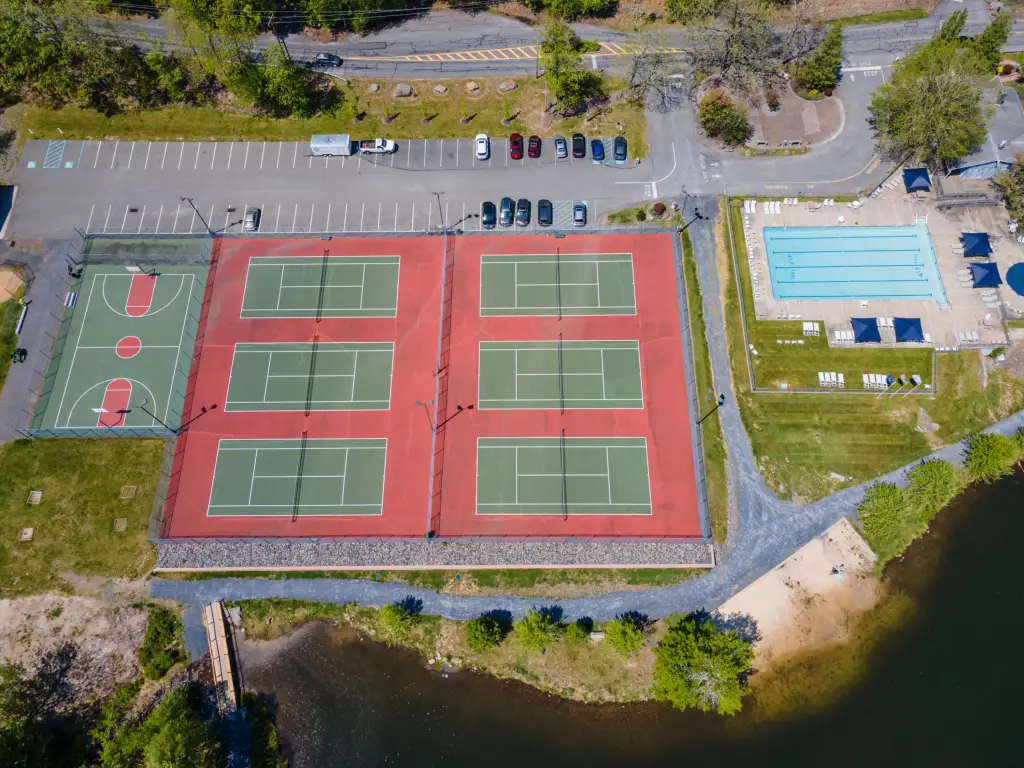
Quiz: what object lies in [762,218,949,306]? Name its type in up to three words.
swimming pool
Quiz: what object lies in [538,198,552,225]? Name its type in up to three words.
car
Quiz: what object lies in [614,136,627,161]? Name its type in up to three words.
vehicle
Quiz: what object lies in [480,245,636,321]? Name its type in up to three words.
tennis court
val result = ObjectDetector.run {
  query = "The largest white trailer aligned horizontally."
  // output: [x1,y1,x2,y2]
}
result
[309,134,357,155]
